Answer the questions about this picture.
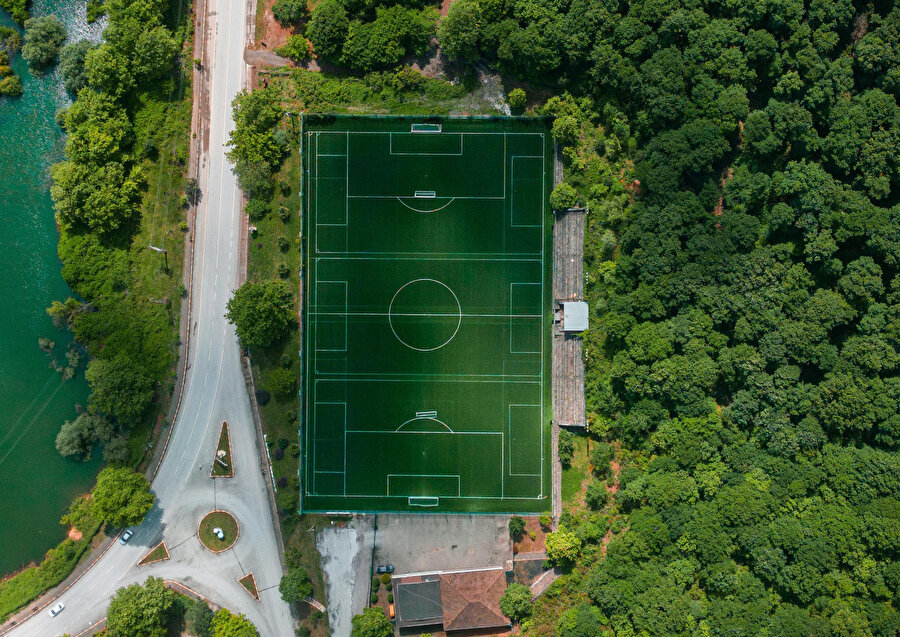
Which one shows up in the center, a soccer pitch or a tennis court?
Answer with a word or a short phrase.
soccer pitch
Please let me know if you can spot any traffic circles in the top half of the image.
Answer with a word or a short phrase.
No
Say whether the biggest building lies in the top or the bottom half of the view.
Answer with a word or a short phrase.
bottom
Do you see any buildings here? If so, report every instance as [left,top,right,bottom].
[553,298,589,340]
[392,566,513,635]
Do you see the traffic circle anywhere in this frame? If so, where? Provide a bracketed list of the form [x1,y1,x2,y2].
[197,510,239,553]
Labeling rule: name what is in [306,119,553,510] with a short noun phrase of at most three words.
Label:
soccer field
